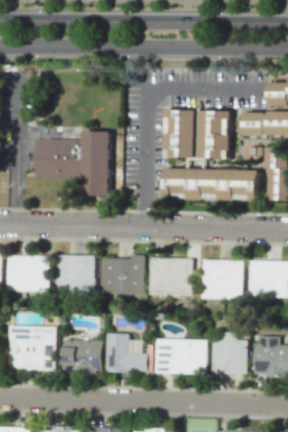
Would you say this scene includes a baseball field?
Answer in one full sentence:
No, no baseball field is visible in the scene.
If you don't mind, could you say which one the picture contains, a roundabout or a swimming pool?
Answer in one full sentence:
Visible in the photo is a swimming pool.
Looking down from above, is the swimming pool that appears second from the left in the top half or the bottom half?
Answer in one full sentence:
It is in the bottom half that the swimming pool that appears second from the left appears.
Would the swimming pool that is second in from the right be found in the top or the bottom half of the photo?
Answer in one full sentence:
The swimming pool that is second in from the right sits in the bottom half of the picture.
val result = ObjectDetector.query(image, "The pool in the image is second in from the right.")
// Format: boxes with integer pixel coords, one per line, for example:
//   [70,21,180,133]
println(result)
[113,314,147,334]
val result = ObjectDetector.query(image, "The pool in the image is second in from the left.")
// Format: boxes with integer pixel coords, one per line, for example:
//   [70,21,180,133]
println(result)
[70,314,102,338]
